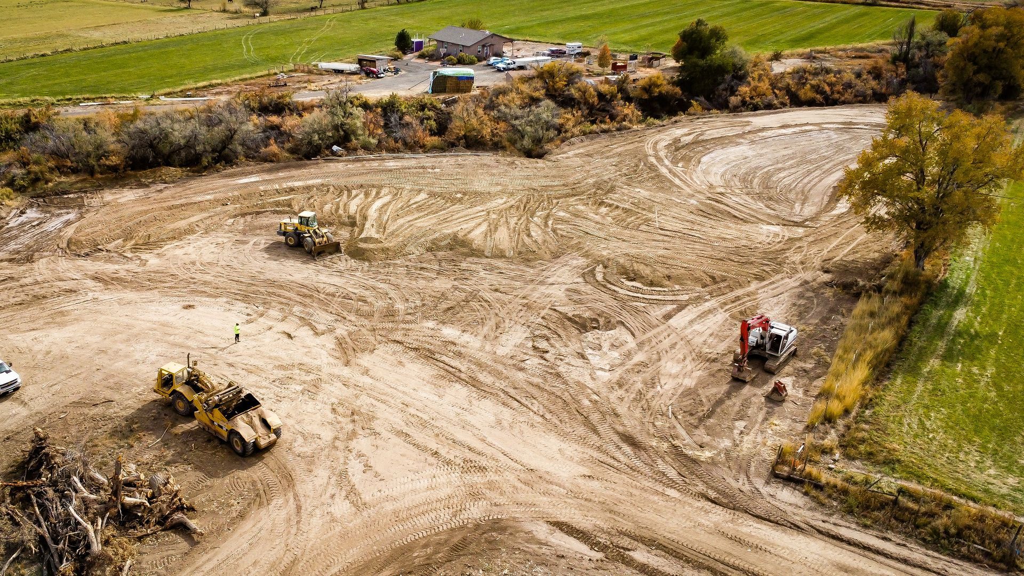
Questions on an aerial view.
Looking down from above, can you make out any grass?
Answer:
Yes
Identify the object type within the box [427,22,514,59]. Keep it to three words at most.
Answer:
house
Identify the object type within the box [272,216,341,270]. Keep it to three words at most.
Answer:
work vehicle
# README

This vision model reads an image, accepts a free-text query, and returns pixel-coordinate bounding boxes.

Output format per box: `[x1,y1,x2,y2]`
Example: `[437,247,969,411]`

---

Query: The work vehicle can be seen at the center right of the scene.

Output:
[731,315,807,379]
